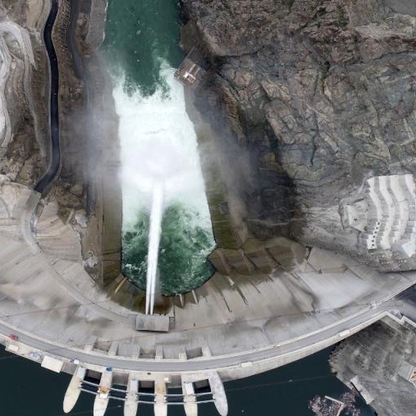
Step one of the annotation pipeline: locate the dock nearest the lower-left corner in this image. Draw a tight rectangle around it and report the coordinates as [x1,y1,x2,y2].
[65,366,90,414]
